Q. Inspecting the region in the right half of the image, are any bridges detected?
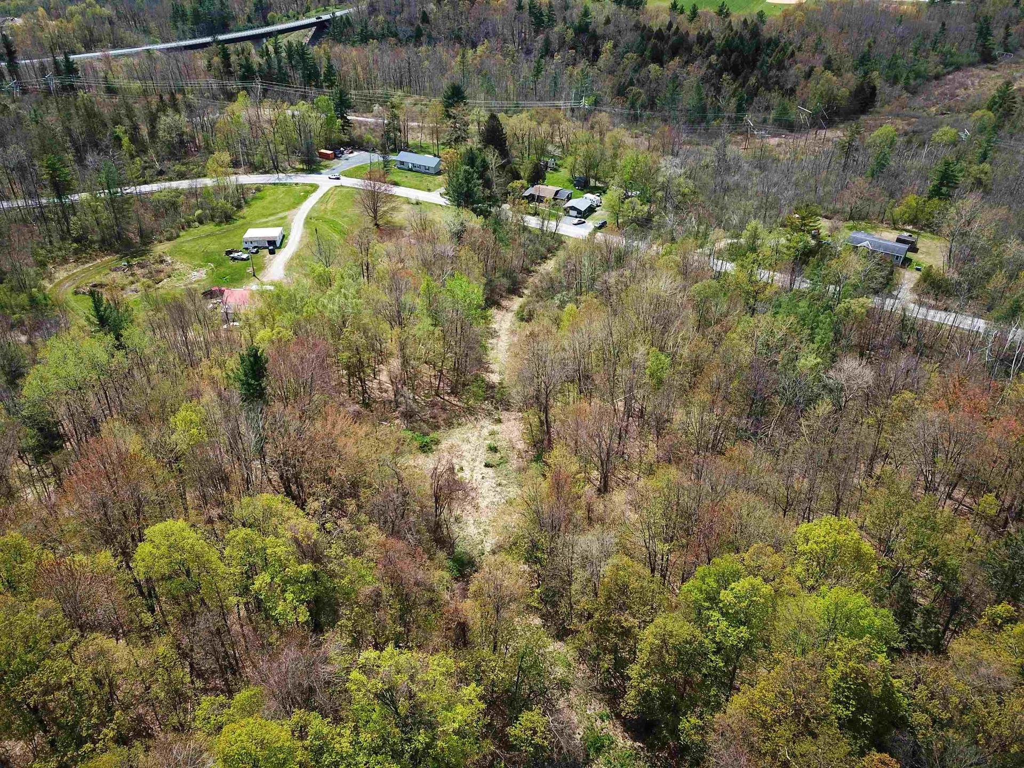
No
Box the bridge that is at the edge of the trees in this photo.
[214,17,324,48]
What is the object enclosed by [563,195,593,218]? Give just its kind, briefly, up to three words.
building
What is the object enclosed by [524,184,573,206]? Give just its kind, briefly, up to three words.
house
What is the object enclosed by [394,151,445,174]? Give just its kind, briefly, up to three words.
house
